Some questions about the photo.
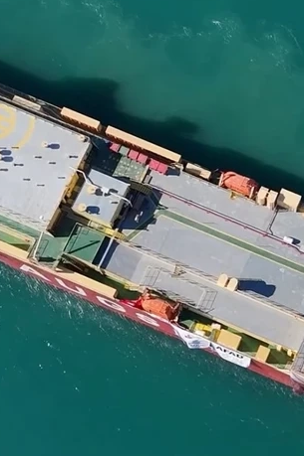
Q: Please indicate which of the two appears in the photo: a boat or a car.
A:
boat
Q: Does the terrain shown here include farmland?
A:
No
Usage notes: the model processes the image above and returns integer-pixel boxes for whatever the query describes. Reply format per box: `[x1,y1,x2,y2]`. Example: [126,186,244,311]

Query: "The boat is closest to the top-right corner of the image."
[219,172,260,195]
